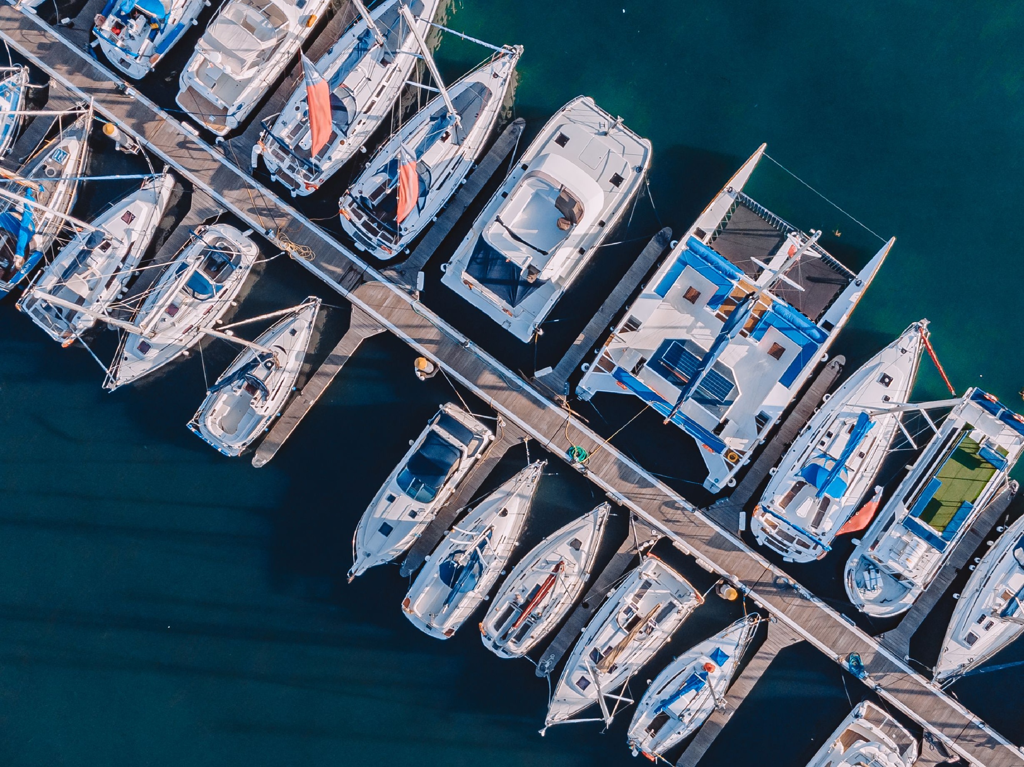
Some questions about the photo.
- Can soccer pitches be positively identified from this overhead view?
No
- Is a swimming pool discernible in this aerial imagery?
No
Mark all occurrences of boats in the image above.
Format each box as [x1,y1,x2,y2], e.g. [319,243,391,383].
[628,614,766,762]
[26,222,263,393]
[575,144,896,494]
[846,387,1024,618]
[930,506,1024,688]
[187,291,321,457]
[475,500,612,659]
[442,94,652,343]
[92,0,213,83]
[176,0,341,138]
[347,403,493,582]
[0,165,173,349]
[751,314,976,563]
[0,60,29,161]
[798,699,918,767]
[339,0,524,263]
[402,458,550,641]
[539,551,704,737]
[252,0,456,199]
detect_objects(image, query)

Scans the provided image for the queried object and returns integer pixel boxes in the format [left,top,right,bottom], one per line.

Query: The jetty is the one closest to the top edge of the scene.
[48,0,105,55]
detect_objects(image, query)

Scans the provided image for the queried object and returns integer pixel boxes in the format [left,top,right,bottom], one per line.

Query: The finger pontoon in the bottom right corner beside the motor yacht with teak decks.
[912,728,962,767]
